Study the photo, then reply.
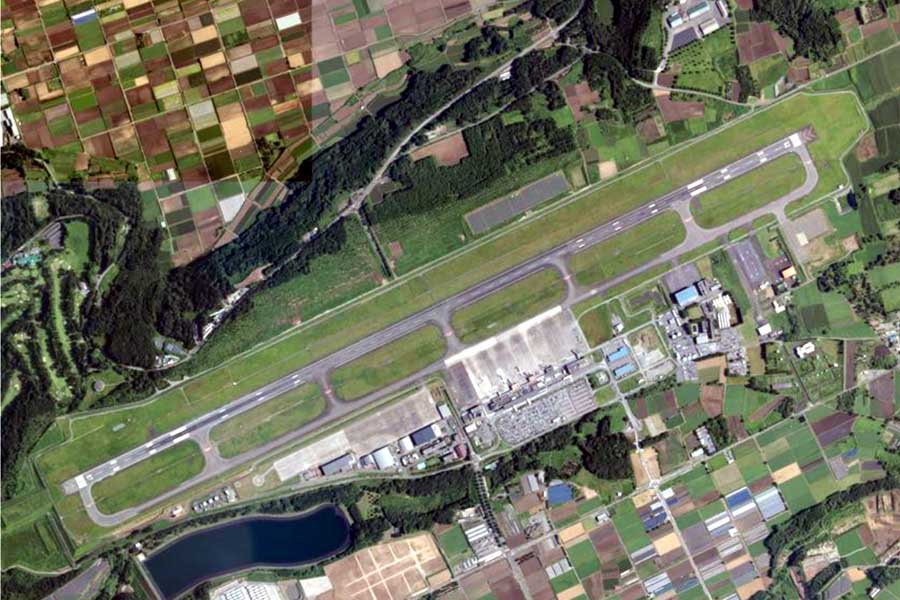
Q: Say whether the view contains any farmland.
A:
Yes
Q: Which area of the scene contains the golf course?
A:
left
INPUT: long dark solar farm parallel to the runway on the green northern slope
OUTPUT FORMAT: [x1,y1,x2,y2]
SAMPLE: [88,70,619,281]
[463,169,570,234]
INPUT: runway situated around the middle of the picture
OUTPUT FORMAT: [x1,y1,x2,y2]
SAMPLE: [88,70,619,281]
[61,126,816,495]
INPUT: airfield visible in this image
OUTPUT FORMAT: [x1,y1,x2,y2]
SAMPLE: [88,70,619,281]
[37,91,868,555]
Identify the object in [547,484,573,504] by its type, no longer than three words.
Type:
building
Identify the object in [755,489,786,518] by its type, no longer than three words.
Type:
greenhouse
